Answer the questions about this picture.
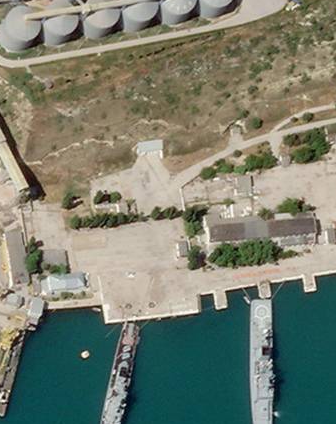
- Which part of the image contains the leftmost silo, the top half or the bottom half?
top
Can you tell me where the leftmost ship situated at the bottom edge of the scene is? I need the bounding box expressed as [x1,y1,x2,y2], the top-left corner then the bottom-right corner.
[104,322,138,424]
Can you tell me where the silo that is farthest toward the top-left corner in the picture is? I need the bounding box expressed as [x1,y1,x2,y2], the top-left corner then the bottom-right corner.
[0,5,42,55]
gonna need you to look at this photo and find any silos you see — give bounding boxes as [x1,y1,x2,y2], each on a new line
[75,0,120,42]
[152,0,197,28]
[113,0,158,35]
[36,0,80,48]
[191,0,233,22]
[0,5,42,55]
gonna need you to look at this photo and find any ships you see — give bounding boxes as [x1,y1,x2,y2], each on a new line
[250,298,273,424]
[104,322,138,424]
